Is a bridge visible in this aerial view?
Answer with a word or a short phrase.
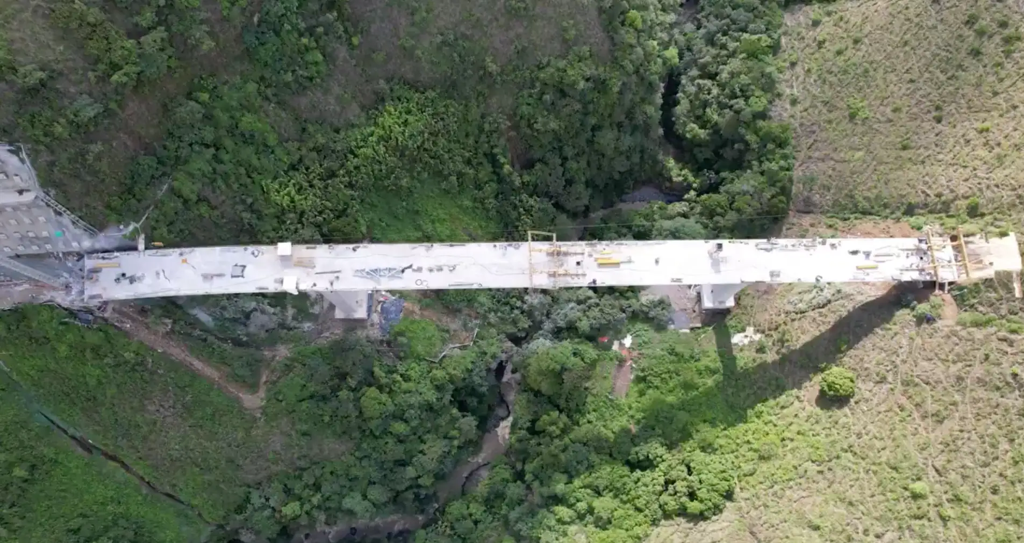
Yes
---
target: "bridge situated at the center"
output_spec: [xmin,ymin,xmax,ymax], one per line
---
[84,238,953,319]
